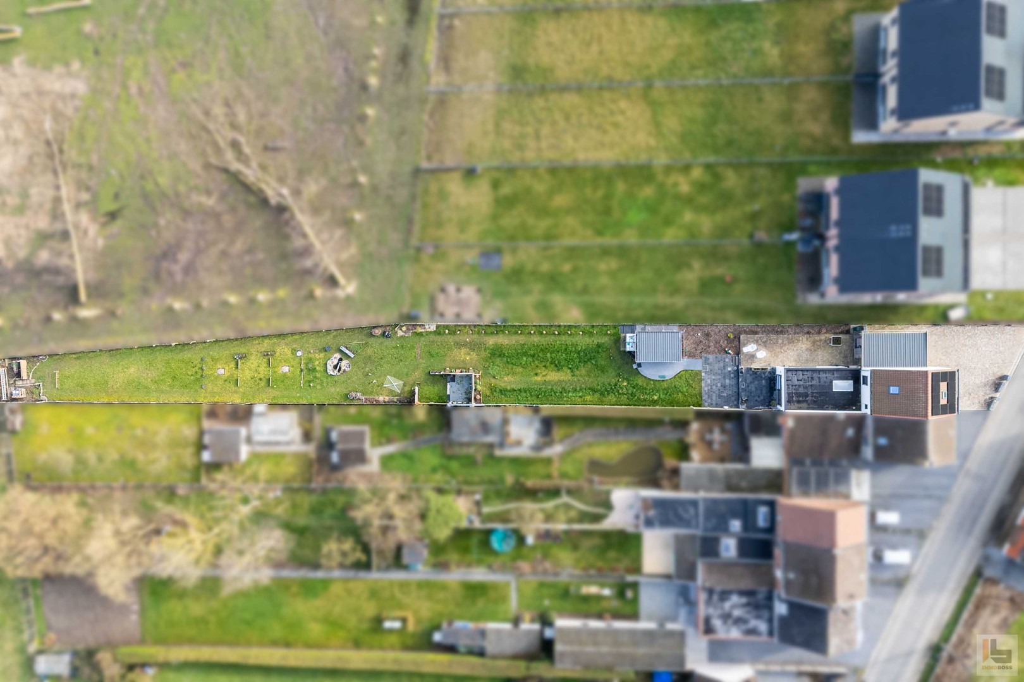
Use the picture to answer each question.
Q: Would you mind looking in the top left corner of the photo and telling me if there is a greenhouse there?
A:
No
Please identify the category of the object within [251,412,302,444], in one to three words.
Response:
greenhouse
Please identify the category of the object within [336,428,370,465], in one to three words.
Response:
shed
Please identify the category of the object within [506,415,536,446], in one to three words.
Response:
building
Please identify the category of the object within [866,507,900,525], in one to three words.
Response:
vehicle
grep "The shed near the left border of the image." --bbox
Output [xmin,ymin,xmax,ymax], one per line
[35,648,80,675]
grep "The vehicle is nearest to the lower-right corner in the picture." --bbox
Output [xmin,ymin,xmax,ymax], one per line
[867,544,911,563]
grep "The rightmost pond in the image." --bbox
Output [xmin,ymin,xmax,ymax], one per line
[588,445,662,476]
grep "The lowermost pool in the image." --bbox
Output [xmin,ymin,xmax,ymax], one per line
[489,528,515,553]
